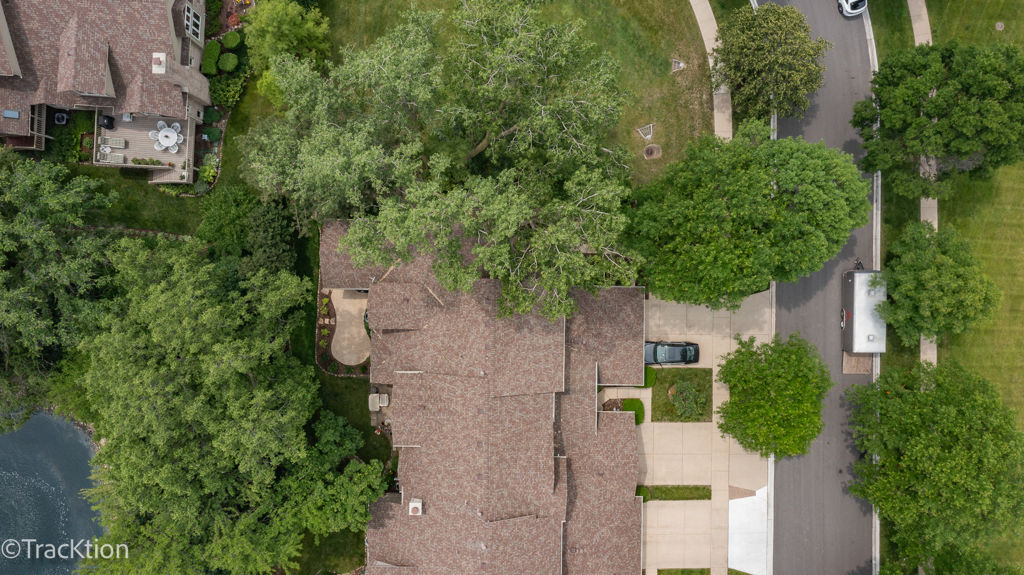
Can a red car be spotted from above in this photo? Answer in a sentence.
No, there's no red car here.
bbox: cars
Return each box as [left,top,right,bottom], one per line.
[646,339,699,368]
[834,0,867,16]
